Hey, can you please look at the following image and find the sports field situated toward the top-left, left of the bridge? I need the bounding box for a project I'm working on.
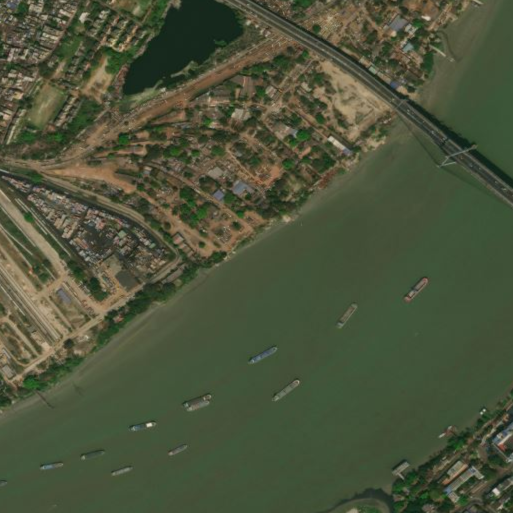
[29,82,65,128]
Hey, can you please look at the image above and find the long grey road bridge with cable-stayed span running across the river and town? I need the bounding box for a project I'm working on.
[227,0,513,211]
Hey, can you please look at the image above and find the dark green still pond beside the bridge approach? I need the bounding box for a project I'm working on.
[123,0,243,96]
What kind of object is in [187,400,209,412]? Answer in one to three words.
ship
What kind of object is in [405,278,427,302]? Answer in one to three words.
ship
